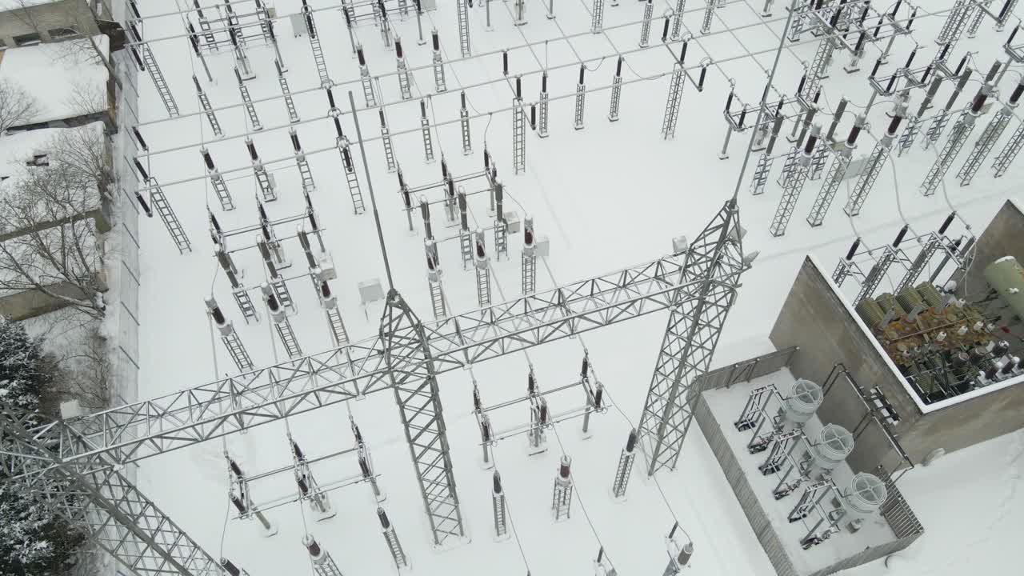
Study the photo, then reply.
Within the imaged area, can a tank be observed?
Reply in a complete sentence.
Yes, a tank can be made out from above.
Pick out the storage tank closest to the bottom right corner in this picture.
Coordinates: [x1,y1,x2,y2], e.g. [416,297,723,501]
[879,310,993,397]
